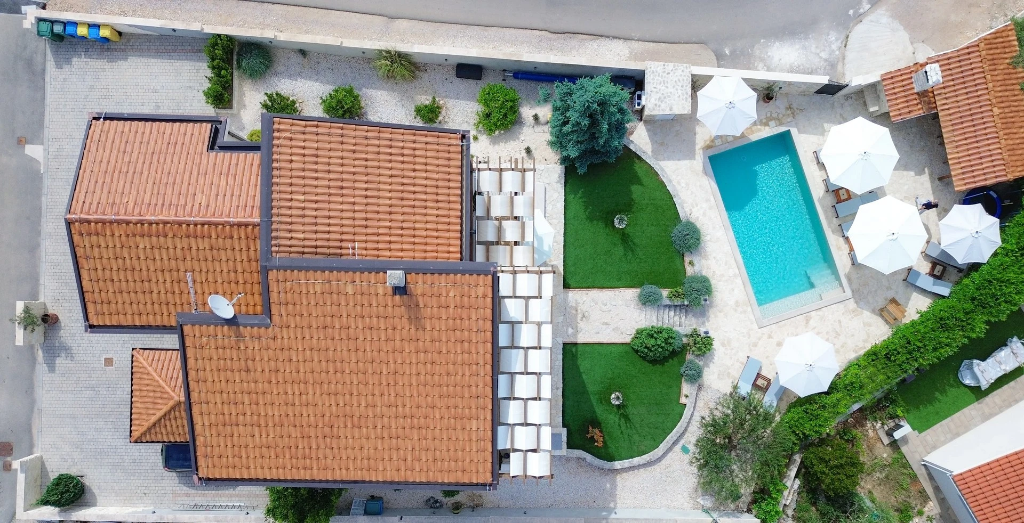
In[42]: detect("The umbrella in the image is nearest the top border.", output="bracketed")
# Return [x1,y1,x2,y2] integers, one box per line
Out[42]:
[697,75,758,136]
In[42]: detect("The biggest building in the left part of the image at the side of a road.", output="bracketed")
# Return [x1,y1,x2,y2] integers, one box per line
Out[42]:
[63,110,502,492]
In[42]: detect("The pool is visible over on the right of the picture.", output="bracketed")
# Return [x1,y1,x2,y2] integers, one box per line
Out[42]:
[698,120,856,331]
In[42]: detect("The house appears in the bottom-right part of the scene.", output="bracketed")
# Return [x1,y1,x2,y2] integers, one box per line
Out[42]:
[922,404,1024,523]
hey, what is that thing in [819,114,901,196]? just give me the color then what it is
white umbrella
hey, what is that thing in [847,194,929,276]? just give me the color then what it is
white umbrella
